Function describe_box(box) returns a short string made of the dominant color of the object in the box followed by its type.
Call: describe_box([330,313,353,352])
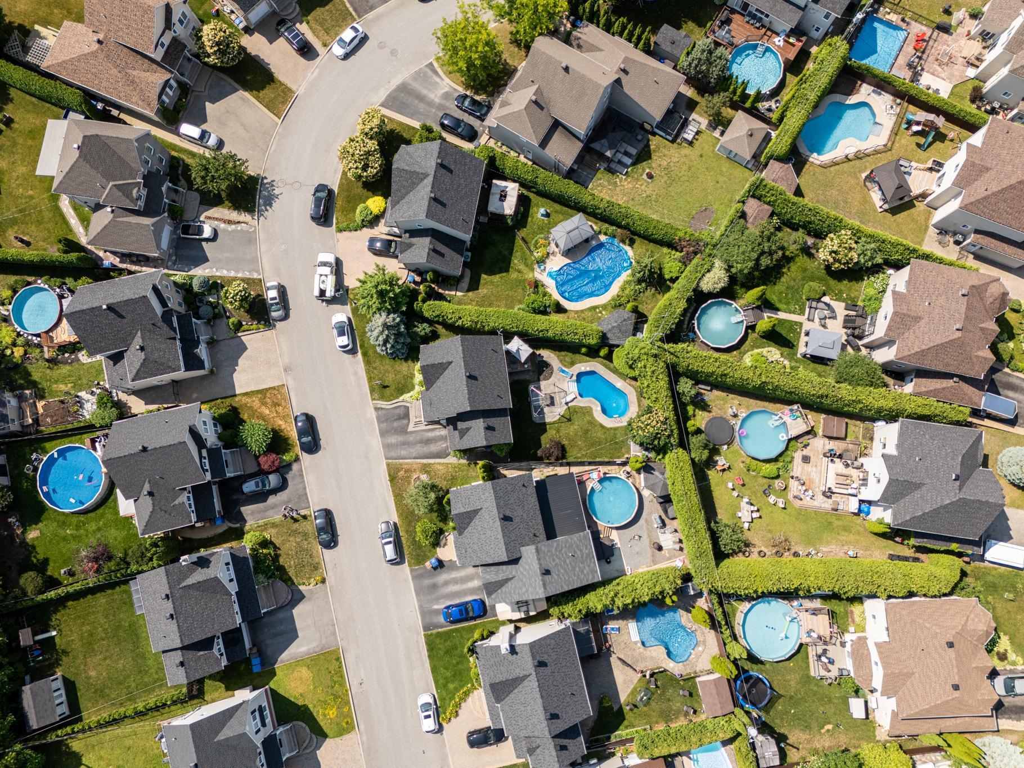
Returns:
white car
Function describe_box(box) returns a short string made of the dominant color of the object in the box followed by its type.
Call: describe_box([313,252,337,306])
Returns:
white truck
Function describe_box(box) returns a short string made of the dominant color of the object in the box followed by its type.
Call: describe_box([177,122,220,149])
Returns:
white car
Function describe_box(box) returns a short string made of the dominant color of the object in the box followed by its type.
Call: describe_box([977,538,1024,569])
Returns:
white trailer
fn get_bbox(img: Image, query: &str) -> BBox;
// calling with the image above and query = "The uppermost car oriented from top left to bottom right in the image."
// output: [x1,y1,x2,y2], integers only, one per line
[275,16,310,56]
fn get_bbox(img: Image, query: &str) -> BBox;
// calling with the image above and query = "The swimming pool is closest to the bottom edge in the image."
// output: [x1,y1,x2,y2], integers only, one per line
[689,738,734,768]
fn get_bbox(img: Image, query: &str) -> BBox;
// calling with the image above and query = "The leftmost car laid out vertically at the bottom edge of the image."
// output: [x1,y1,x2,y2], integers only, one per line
[418,693,438,732]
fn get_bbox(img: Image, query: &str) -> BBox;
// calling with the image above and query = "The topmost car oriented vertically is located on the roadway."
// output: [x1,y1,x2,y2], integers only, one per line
[311,184,331,225]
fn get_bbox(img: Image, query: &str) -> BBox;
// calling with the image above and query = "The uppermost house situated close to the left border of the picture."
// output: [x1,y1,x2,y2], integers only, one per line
[40,0,218,119]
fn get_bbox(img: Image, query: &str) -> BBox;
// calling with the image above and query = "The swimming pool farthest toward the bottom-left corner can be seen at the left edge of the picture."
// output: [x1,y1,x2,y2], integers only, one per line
[39,444,112,512]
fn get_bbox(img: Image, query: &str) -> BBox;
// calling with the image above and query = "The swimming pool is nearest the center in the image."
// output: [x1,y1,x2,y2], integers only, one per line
[573,367,632,425]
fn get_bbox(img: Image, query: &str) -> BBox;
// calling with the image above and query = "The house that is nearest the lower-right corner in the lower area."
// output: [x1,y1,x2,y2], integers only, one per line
[841,587,1000,737]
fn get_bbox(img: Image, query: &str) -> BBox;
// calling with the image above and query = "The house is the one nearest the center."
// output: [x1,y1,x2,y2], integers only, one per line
[413,334,513,452]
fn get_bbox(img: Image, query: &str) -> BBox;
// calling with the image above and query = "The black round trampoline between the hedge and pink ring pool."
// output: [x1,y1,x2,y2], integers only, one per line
[702,416,734,446]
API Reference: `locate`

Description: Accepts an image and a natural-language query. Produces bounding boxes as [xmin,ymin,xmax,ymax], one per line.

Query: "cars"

[418,693,438,732]
[177,122,220,149]
[332,23,367,60]
[275,16,310,56]
[178,221,215,240]
[452,93,492,122]
[241,472,283,496]
[437,113,479,142]
[443,598,484,621]
[377,521,400,563]
[993,674,1024,696]
[294,412,317,453]
[469,727,507,748]
[365,237,400,256]
[311,184,331,225]
[265,280,288,322]
[312,508,337,549]
[330,313,353,352]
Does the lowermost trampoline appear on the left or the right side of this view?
right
